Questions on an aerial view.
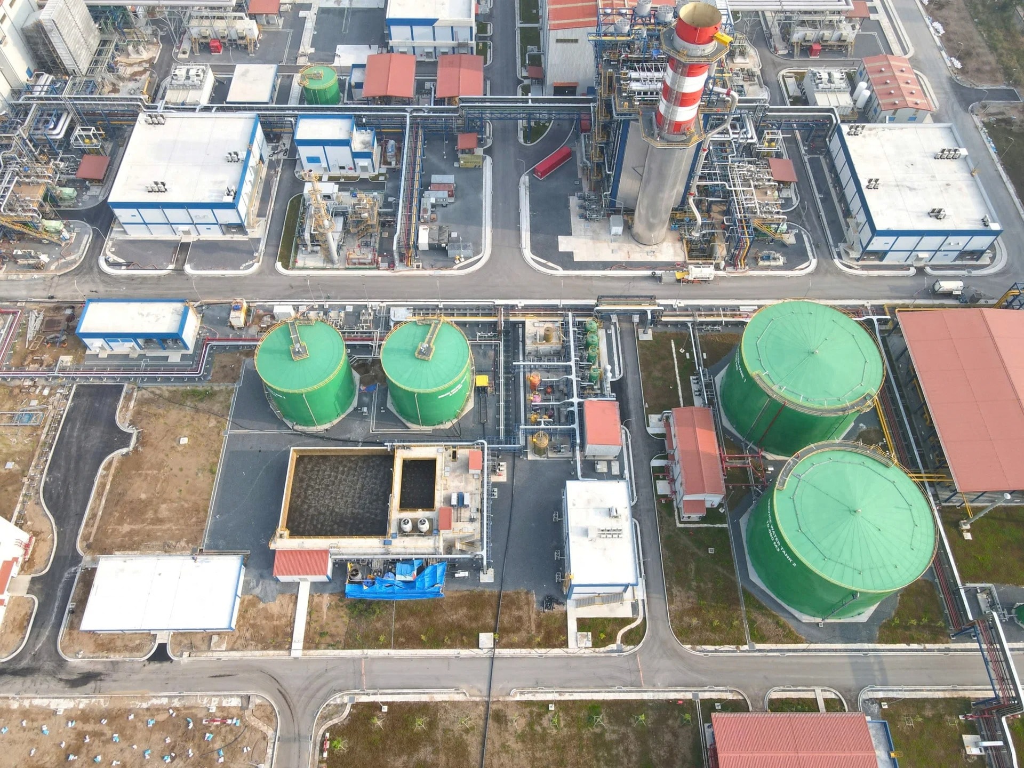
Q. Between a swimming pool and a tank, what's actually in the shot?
tank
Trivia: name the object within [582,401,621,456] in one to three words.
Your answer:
shed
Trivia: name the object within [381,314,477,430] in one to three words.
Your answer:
storage tank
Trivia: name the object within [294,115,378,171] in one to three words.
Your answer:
building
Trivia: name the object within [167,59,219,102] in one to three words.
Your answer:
house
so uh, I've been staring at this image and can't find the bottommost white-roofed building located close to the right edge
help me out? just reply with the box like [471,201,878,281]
[824,124,1003,261]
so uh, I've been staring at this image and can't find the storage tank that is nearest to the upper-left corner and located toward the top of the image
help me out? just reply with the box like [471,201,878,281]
[295,55,343,102]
